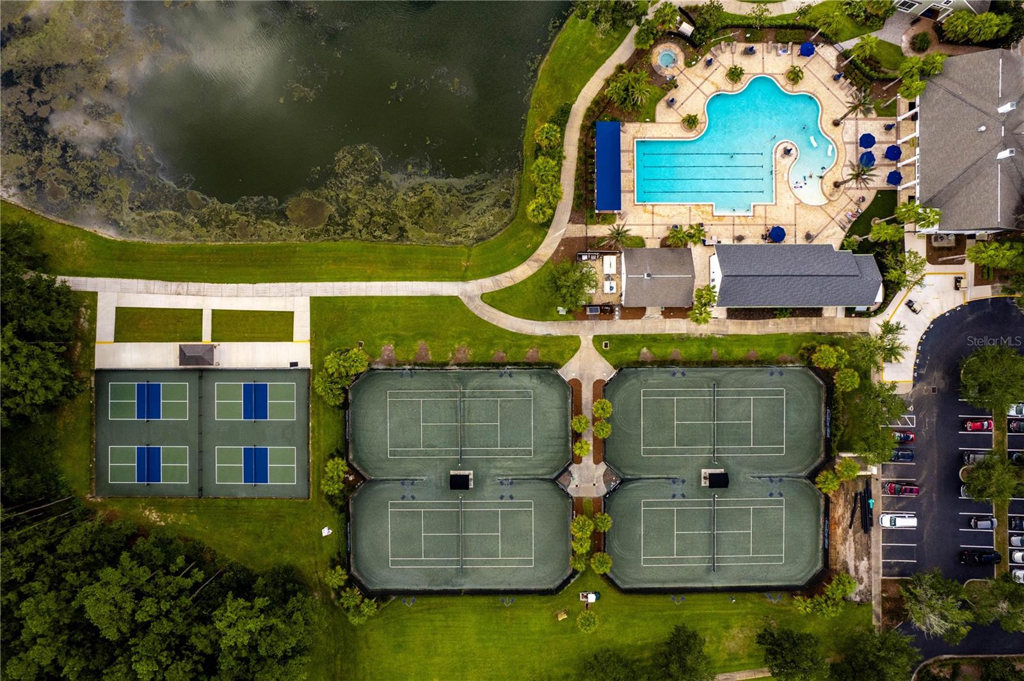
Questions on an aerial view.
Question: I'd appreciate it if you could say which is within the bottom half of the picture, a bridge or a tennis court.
tennis court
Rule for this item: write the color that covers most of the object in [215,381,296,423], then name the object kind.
green sports court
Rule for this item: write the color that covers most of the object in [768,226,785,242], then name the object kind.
blue umbrella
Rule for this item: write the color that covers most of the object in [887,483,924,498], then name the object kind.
red vehicle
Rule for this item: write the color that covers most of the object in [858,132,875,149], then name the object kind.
blue umbrella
